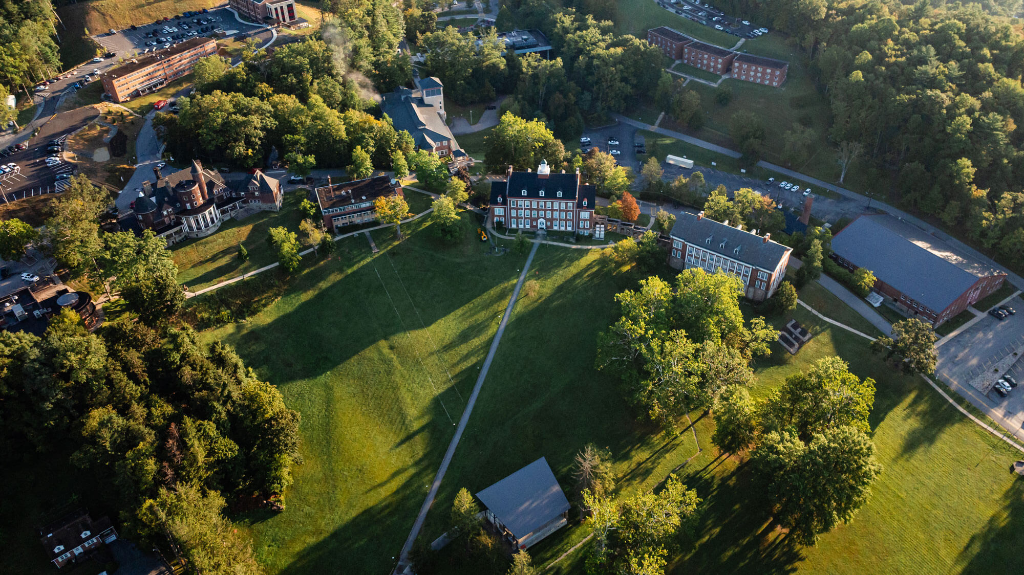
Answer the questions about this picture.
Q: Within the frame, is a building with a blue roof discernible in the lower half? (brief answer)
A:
Yes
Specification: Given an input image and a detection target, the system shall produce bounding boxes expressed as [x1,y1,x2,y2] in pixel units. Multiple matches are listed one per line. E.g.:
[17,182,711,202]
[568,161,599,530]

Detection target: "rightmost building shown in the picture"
[819,215,1009,324]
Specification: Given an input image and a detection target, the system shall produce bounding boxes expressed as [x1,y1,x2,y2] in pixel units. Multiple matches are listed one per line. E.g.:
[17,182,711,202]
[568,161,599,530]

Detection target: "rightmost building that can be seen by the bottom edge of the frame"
[476,457,570,551]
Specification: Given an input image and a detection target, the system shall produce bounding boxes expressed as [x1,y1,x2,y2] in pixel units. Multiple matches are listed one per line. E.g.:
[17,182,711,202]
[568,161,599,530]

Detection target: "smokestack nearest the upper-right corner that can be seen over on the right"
[802,196,816,223]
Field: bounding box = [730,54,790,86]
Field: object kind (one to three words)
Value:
building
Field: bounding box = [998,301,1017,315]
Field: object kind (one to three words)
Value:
car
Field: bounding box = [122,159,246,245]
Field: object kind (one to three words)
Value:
house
